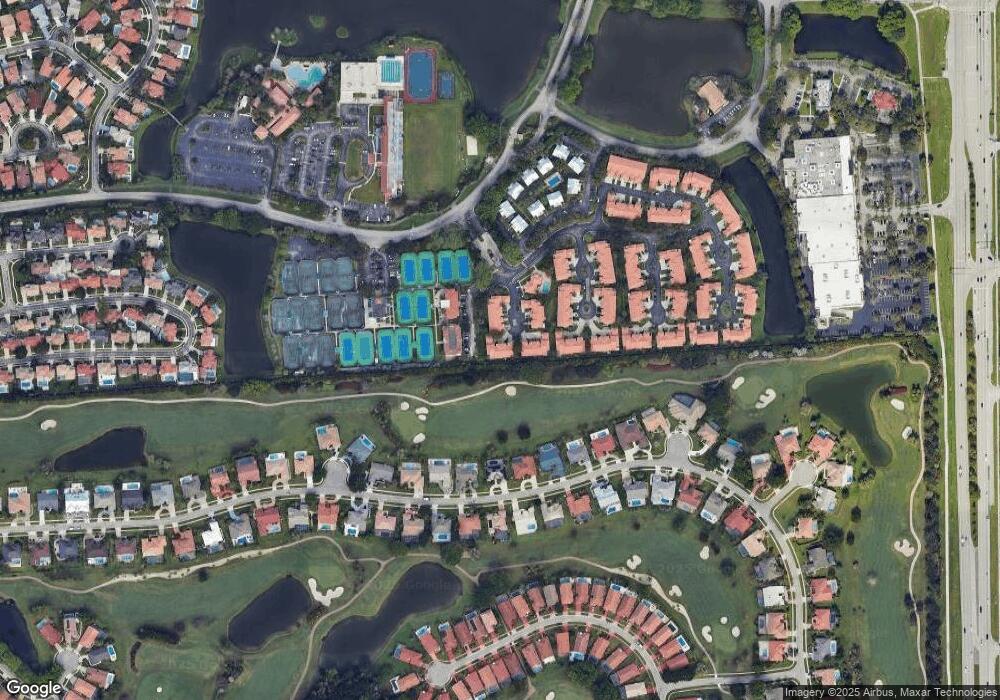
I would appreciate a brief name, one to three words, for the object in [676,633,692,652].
swimming pool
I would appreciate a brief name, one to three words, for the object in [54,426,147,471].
pond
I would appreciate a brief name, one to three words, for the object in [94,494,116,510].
house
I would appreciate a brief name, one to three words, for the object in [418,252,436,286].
tennis court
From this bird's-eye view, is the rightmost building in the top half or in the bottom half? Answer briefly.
top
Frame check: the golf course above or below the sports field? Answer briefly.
below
